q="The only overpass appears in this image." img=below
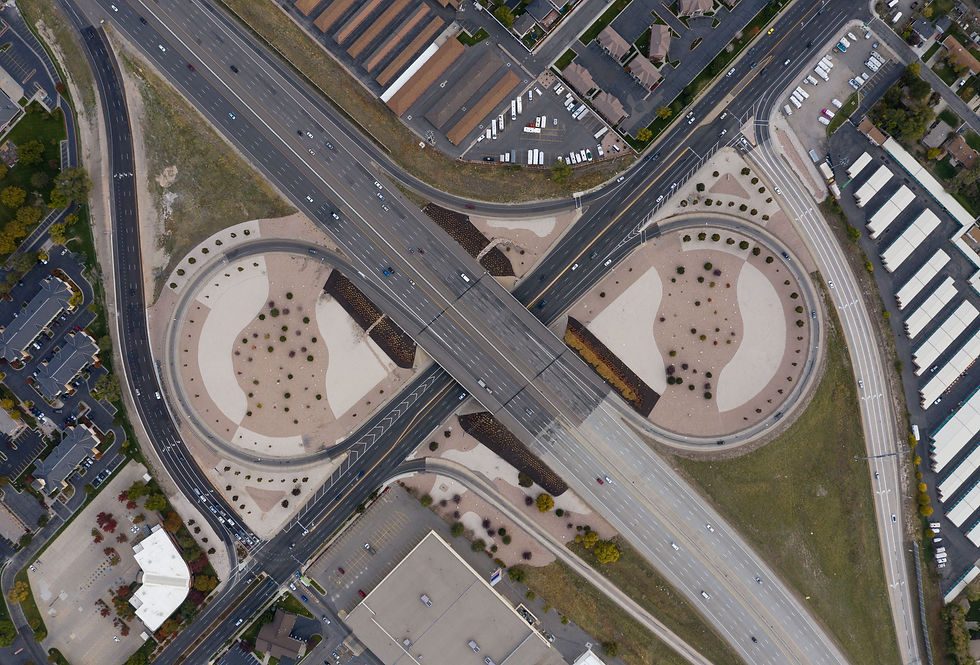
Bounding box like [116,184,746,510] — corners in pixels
[412,264,586,439]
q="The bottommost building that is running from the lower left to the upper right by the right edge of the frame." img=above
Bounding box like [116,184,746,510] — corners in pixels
[942,559,980,604]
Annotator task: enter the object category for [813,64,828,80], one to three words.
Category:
vehicle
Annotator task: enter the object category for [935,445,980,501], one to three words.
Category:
building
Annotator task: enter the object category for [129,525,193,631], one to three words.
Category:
building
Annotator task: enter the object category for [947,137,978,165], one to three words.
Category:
house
